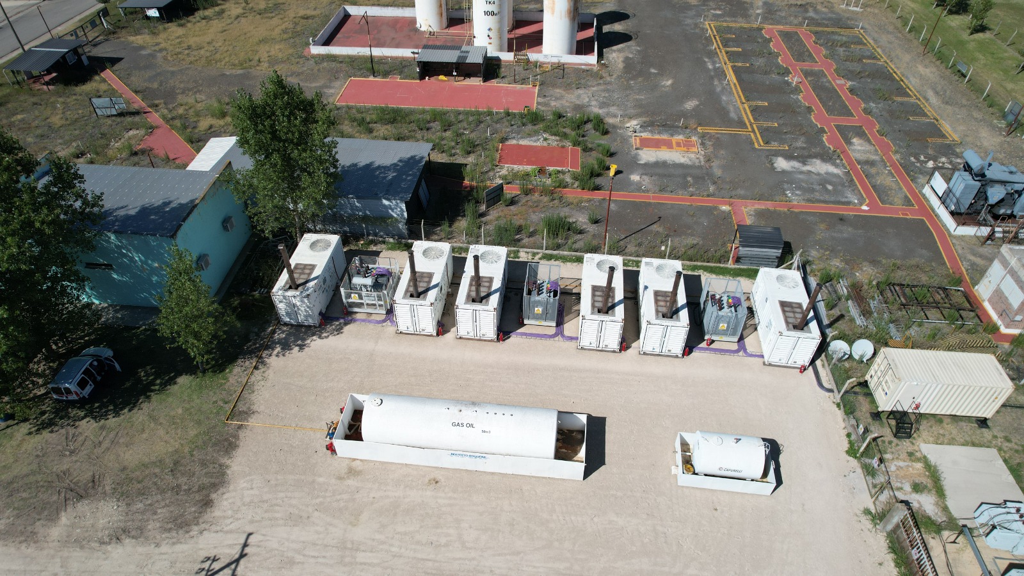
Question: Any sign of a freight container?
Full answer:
Yes, this view includes a freight container.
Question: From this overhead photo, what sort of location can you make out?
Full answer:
This looks like an industrial area.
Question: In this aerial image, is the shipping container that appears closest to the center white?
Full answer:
Yes, white is the color of the shipping container that appears closest to the center.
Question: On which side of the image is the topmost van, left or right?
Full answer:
It is on the left.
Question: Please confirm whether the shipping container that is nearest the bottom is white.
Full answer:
Yes, white is the color of the shipping container that is nearest the bottom.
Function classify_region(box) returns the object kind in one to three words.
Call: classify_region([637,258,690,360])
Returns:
shipping container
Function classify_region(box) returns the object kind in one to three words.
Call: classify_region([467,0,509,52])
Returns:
storage tank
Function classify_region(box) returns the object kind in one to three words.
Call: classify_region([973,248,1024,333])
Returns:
shed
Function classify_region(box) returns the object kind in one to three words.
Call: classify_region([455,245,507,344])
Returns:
shipping container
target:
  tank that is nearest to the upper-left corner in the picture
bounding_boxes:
[417,0,455,30]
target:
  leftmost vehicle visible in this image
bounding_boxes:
[50,342,124,404]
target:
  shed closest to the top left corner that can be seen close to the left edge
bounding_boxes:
[3,38,91,92]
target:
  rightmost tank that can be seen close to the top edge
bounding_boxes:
[542,0,580,55]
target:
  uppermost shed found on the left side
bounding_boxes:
[118,0,181,28]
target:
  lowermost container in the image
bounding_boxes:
[857,347,1015,430]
